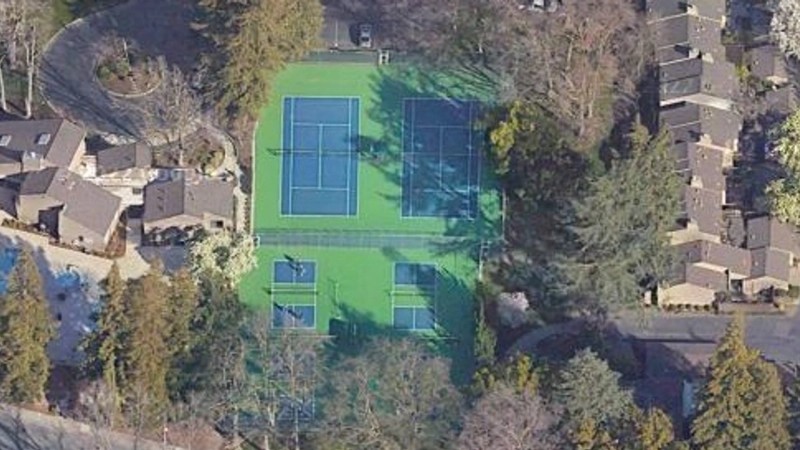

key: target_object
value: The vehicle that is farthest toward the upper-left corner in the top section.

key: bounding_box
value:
[358,27,373,51]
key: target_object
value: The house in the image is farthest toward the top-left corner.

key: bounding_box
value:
[0,119,88,183]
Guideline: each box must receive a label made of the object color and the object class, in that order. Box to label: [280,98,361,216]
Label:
blue tennis court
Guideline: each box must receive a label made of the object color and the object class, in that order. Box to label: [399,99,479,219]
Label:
blue tennis court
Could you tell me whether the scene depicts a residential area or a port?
residential area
